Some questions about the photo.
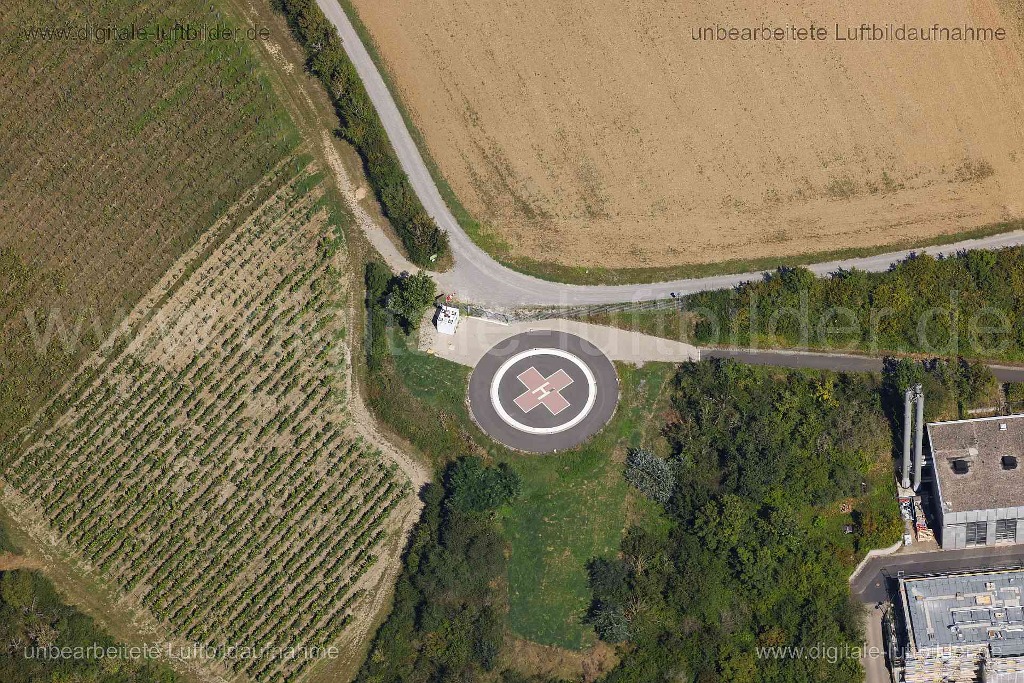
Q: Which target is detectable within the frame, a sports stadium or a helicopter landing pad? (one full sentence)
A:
Of the two, only a helicopter landing pad appears.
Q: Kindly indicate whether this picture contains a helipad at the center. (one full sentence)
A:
Yes, a helipad appears at the center.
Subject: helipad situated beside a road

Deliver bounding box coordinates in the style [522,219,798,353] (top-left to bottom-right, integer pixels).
[469,329,619,453]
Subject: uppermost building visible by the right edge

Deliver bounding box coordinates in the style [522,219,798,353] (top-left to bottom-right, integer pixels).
[928,413,1024,551]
